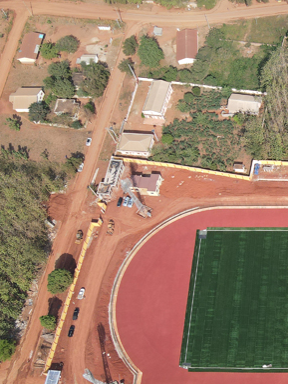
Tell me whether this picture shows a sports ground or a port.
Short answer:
sports ground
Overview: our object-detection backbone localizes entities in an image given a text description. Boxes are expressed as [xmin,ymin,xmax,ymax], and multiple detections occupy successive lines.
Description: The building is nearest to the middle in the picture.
[133,174,159,194]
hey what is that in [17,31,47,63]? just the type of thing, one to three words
house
